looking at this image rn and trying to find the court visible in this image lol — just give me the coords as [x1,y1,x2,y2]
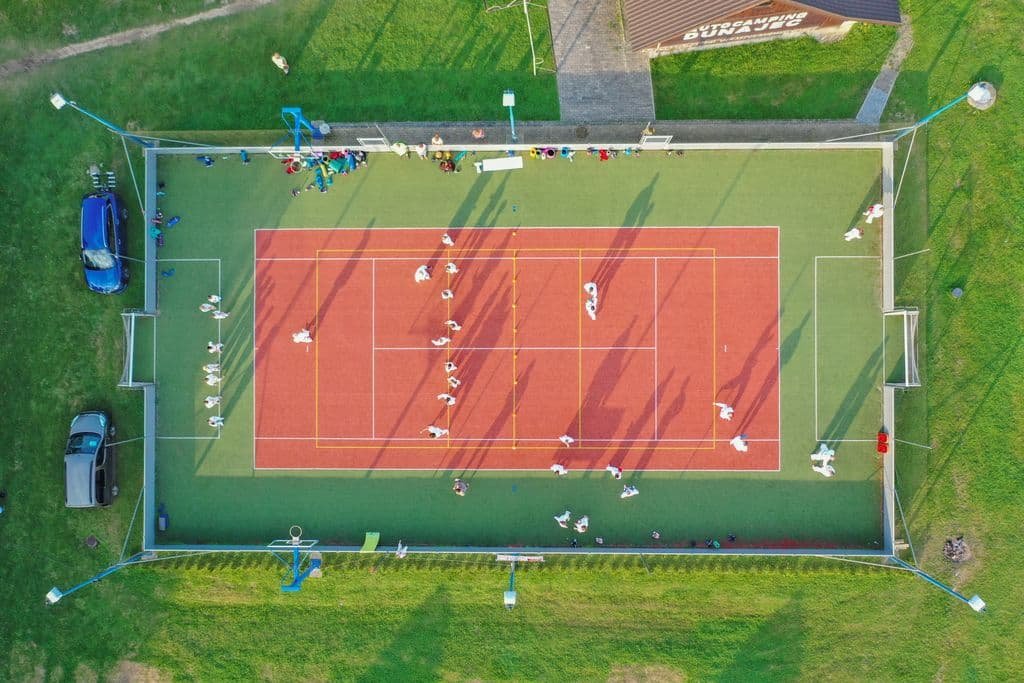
[128,148,913,550]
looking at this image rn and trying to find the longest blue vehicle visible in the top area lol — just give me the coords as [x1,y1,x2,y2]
[79,192,130,293]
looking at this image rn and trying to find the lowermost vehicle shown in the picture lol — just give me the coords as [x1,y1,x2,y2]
[65,412,117,507]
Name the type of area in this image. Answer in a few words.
sports ground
